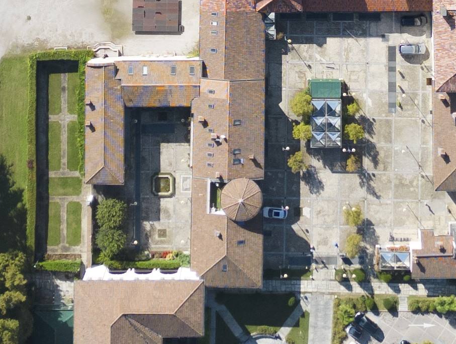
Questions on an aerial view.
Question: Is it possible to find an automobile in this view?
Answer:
Yes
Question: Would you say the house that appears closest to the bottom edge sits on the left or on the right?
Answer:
left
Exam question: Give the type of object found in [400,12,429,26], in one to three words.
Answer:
car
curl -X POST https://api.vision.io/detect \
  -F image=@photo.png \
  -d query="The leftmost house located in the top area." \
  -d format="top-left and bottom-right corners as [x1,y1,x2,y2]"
[84,55,199,186]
